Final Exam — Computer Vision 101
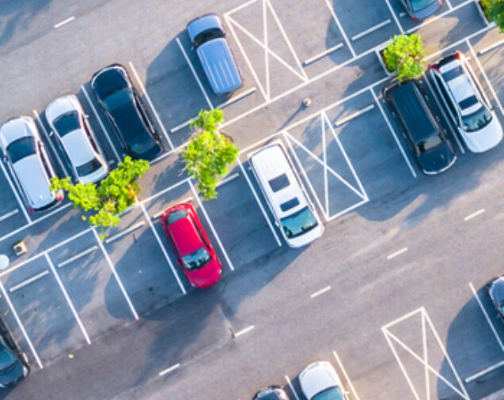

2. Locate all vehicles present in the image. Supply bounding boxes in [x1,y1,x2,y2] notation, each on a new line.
[399,0,443,24]
[300,359,350,400]
[92,63,162,165]
[0,302,31,390]
[44,94,110,185]
[248,138,326,251]
[0,116,64,212]
[161,200,226,290]
[430,52,504,156]
[384,75,459,179]
[186,11,246,96]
